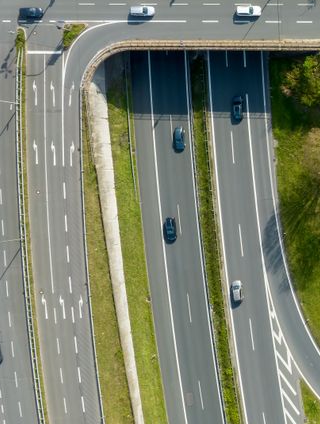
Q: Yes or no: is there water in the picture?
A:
No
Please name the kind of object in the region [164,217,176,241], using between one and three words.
vehicle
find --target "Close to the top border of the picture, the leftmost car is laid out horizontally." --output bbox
[18,7,45,19]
